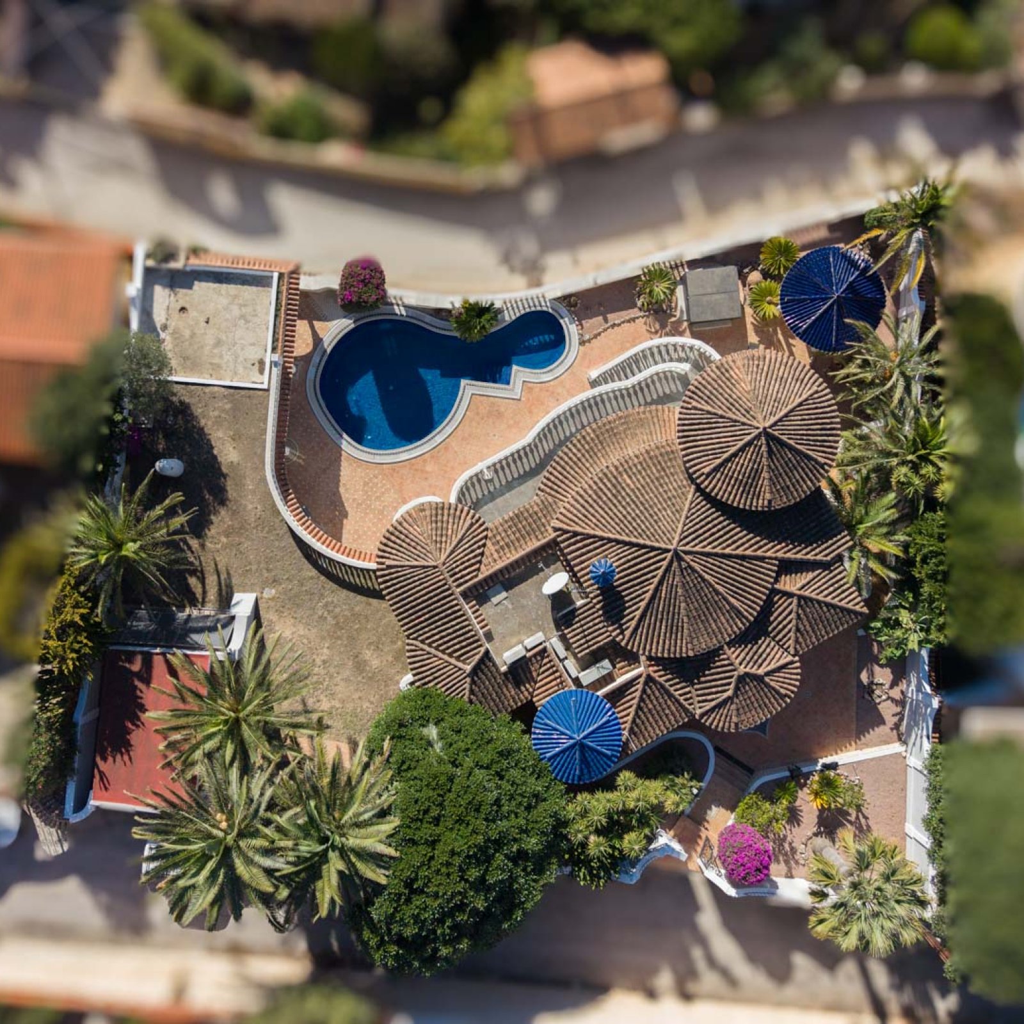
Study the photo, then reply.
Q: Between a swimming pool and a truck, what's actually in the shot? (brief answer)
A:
swimming pool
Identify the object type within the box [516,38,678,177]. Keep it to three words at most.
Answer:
house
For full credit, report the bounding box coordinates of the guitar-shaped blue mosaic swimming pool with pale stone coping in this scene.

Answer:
[305,301,581,464]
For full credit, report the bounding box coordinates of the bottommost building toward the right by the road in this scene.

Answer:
[375,347,871,784]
